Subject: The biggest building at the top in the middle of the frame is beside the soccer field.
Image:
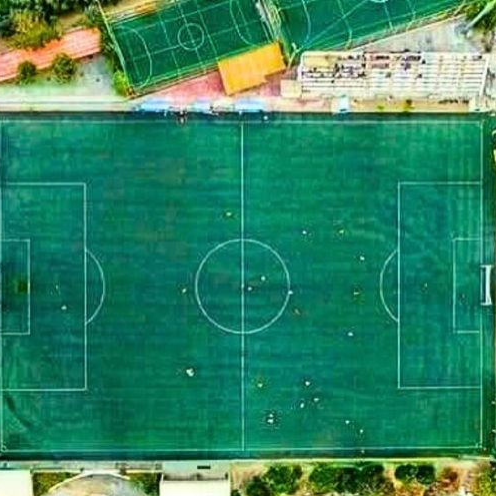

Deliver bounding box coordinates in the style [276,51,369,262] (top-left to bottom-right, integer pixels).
[218,41,285,98]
